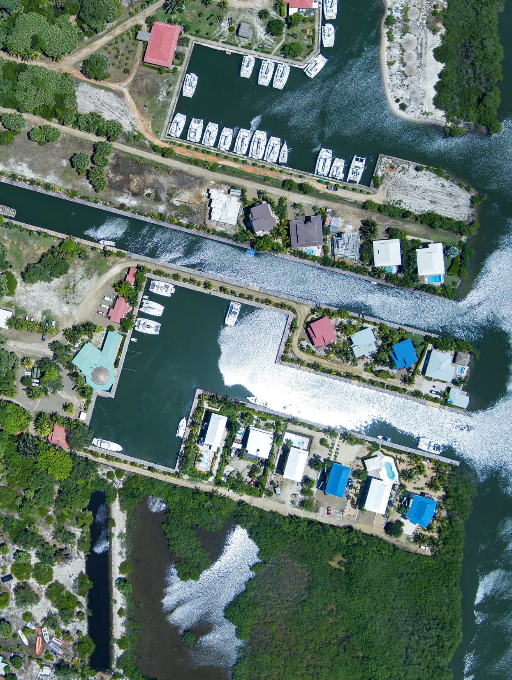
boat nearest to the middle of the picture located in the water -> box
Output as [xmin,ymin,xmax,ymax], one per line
[226,301,241,327]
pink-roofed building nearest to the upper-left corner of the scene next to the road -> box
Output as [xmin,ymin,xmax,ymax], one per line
[144,22,181,67]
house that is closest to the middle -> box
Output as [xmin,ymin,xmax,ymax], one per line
[304,317,336,349]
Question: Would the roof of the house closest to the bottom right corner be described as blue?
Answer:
Yes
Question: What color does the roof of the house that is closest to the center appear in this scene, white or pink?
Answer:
pink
